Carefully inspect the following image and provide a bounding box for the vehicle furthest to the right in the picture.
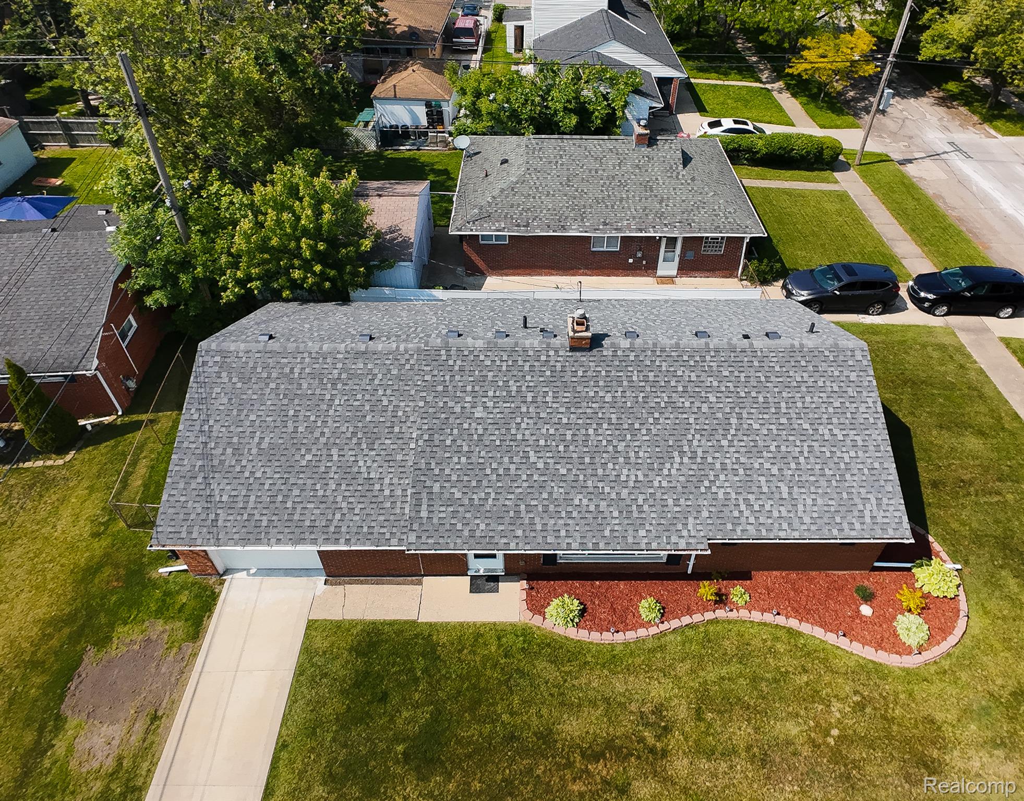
[907,263,1024,316]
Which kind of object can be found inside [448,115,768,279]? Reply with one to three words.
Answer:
house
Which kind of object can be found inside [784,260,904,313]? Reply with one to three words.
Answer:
car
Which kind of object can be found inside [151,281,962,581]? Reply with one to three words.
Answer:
house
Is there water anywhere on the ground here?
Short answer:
No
